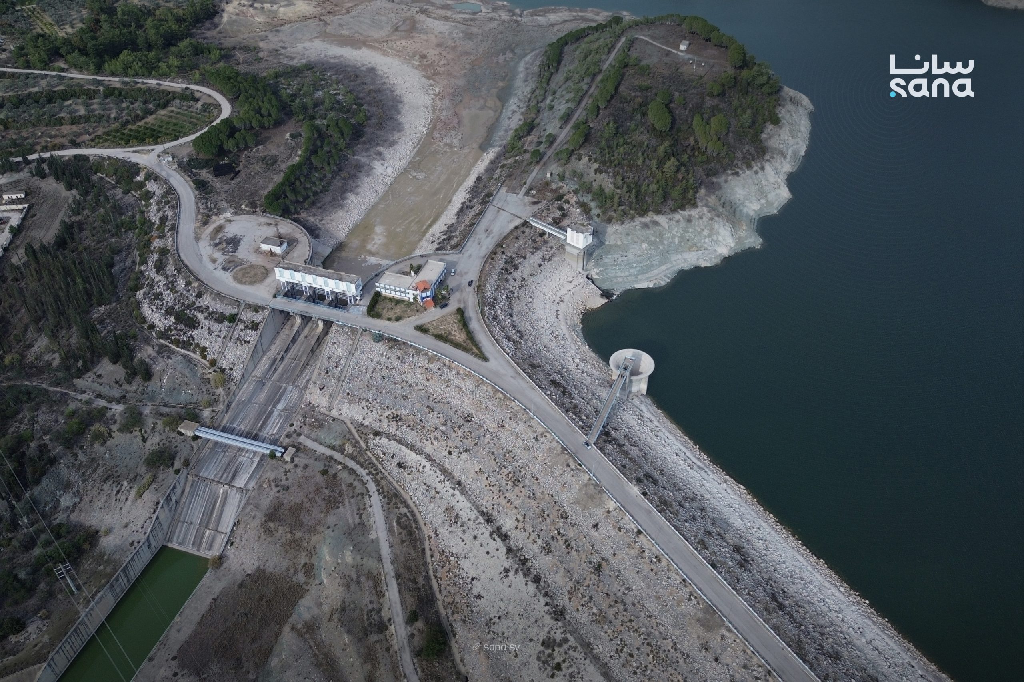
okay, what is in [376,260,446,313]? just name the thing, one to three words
building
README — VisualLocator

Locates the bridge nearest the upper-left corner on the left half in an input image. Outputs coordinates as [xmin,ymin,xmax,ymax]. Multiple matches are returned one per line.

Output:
[265,297,346,338]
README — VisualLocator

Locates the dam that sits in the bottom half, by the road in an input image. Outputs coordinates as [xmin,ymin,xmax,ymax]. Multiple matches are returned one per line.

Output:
[303,199,823,682]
